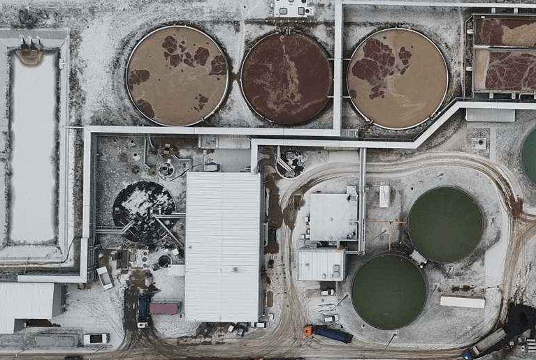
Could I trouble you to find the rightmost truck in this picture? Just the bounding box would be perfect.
[463,327,510,360]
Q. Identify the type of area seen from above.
industrial area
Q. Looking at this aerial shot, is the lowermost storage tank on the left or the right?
right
